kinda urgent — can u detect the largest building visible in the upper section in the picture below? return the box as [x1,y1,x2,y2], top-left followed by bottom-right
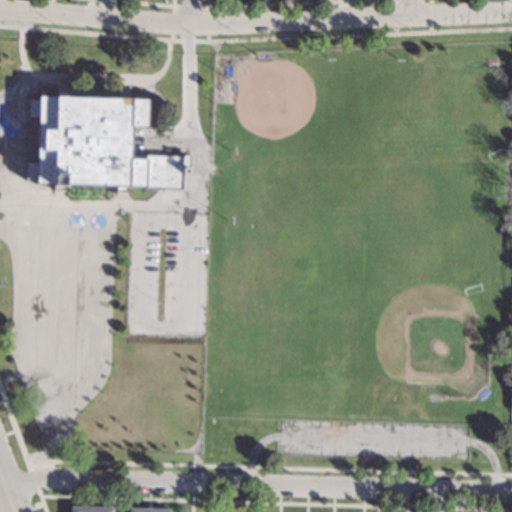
[38,94,191,191]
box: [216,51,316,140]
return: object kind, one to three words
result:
baseball field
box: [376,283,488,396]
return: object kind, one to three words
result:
baseball field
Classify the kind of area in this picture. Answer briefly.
sports ground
